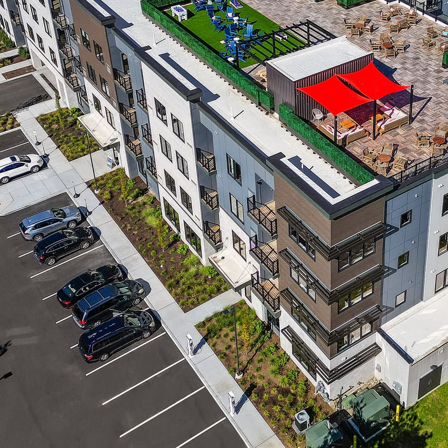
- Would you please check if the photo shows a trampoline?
No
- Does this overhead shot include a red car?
No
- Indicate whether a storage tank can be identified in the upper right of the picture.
No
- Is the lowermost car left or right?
left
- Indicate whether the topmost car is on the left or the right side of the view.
left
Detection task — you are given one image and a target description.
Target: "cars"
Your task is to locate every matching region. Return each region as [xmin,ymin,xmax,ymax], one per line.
[28,225,96,267]
[68,277,149,329]
[76,308,159,366]
[15,204,82,245]
[0,152,45,184]
[51,261,125,308]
